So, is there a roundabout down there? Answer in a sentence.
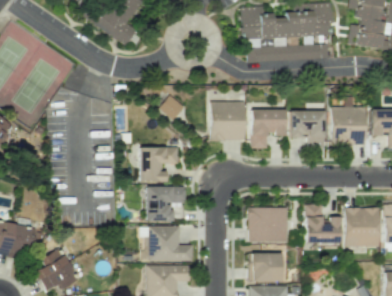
Yes, there's a roundabout here.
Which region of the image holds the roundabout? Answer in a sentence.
The roundabout appears toward the top of the photo.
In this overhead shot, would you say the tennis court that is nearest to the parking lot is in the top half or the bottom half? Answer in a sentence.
The tennis court that is nearest to the parking lot sits in the top half of the picture.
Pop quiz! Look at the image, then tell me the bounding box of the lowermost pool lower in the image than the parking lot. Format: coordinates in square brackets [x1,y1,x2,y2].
[94,260,112,277]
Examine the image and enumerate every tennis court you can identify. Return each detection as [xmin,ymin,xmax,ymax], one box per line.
[0,22,42,108]
[0,44,73,130]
